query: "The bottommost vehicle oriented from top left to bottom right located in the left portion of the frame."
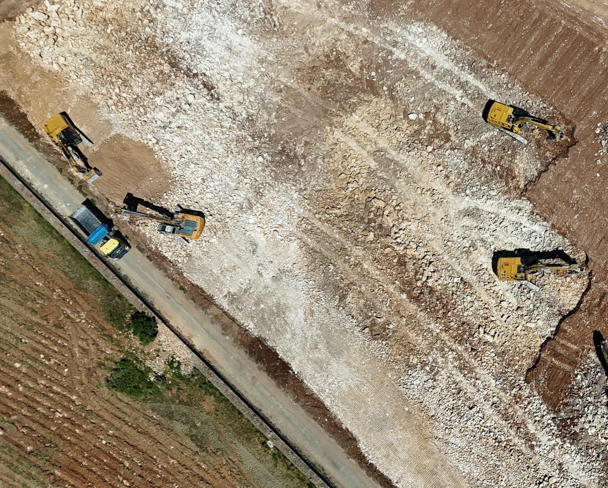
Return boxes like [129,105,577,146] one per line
[64,201,131,260]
